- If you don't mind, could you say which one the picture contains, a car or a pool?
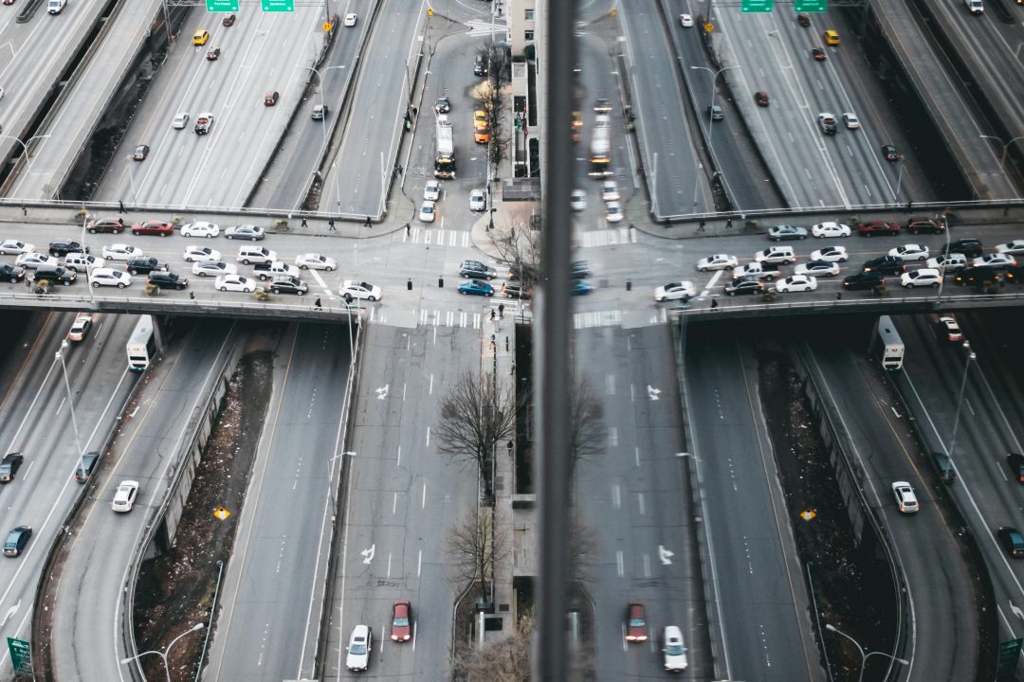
car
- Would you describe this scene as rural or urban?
urban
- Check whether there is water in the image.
No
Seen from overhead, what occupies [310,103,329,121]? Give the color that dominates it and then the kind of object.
gray car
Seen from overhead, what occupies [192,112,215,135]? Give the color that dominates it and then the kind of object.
white truck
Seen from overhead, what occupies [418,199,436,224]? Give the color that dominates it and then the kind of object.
white car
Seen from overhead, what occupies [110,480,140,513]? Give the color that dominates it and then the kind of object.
white car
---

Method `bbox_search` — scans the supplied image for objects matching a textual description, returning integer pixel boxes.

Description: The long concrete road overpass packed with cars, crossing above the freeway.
[0,196,388,352]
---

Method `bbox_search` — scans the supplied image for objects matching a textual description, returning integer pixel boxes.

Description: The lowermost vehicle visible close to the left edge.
[2,526,33,559]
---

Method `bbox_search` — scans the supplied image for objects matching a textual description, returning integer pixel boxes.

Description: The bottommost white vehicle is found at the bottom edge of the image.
[345,624,374,668]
